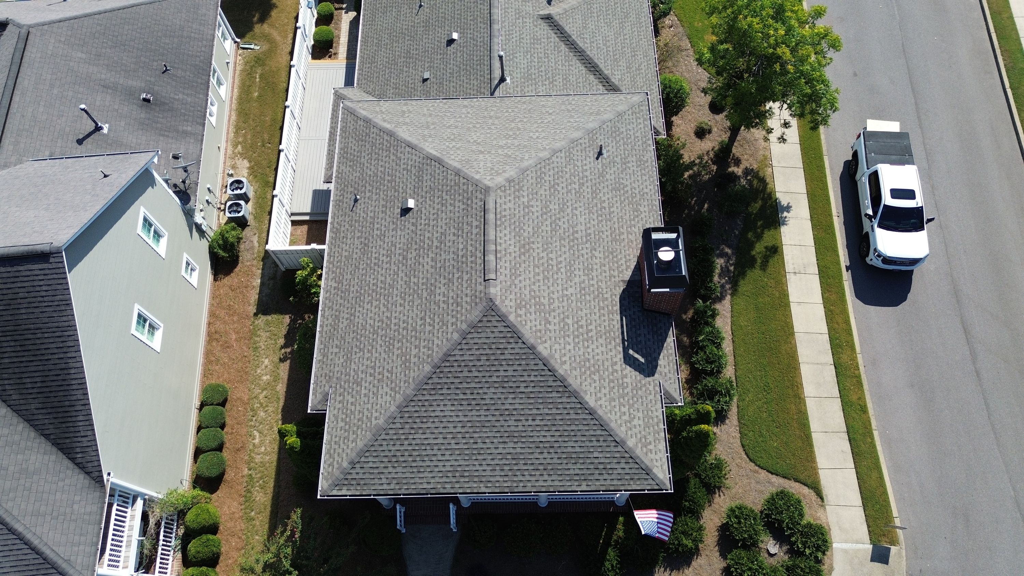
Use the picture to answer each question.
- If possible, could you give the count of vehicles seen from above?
1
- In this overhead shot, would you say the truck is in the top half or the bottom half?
top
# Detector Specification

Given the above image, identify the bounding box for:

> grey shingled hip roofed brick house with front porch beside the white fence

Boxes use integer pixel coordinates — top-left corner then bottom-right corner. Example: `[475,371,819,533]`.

[308,0,690,535]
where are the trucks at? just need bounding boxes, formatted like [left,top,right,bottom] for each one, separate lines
[849,126,935,272]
